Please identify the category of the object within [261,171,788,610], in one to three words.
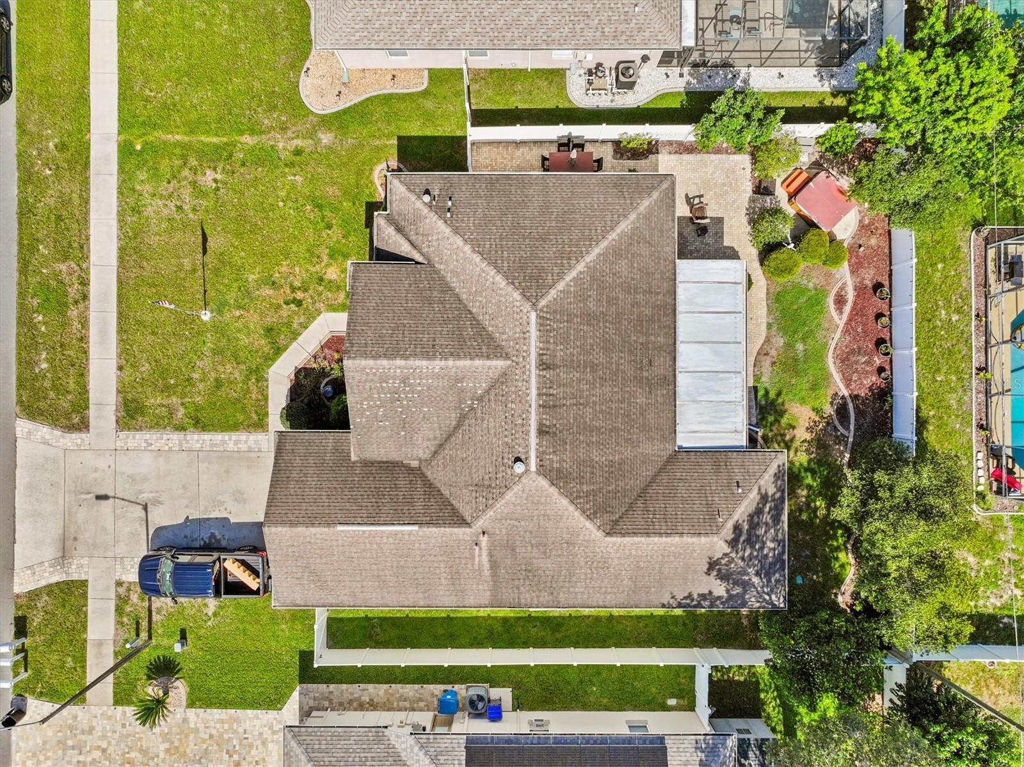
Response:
house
